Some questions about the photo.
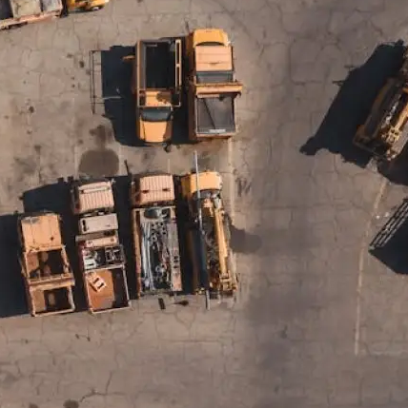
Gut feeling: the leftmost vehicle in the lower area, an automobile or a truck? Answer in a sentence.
What you see as the leftmost vehicle in the lower area is a truck.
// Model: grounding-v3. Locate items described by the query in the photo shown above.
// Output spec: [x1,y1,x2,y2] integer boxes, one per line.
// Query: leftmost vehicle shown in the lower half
[14,213,77,315]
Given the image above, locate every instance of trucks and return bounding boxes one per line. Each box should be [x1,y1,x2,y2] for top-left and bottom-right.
[127,175,181,295]
[14,213,77,315]
[185,29,241,139]
[179,172,244,298]
[128,39,184,145]
[68,179,130,312]
[351,33,408,163]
